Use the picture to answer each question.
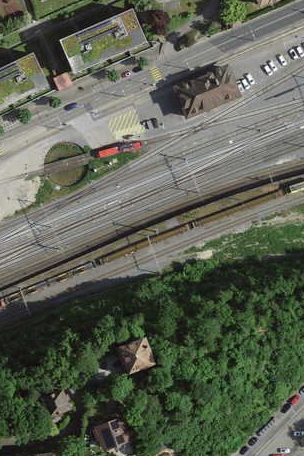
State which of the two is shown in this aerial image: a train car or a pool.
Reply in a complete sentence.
Looking from above, you can make out a train car.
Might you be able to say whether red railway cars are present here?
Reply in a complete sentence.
Yes, a red railway car is visible in the scene.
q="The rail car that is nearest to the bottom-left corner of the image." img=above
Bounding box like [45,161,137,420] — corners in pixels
[99,246,129,266]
